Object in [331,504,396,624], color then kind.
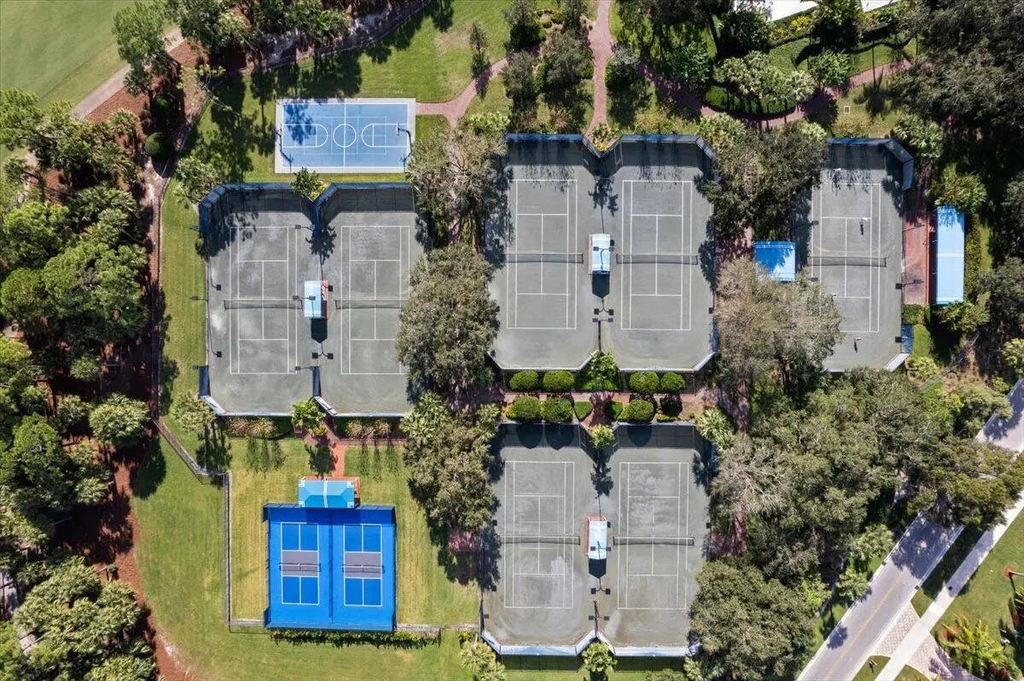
blue sports court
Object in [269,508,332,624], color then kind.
blue sports court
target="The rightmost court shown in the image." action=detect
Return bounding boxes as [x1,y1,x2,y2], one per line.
[790,144,904,370]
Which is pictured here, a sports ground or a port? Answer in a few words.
sports ground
